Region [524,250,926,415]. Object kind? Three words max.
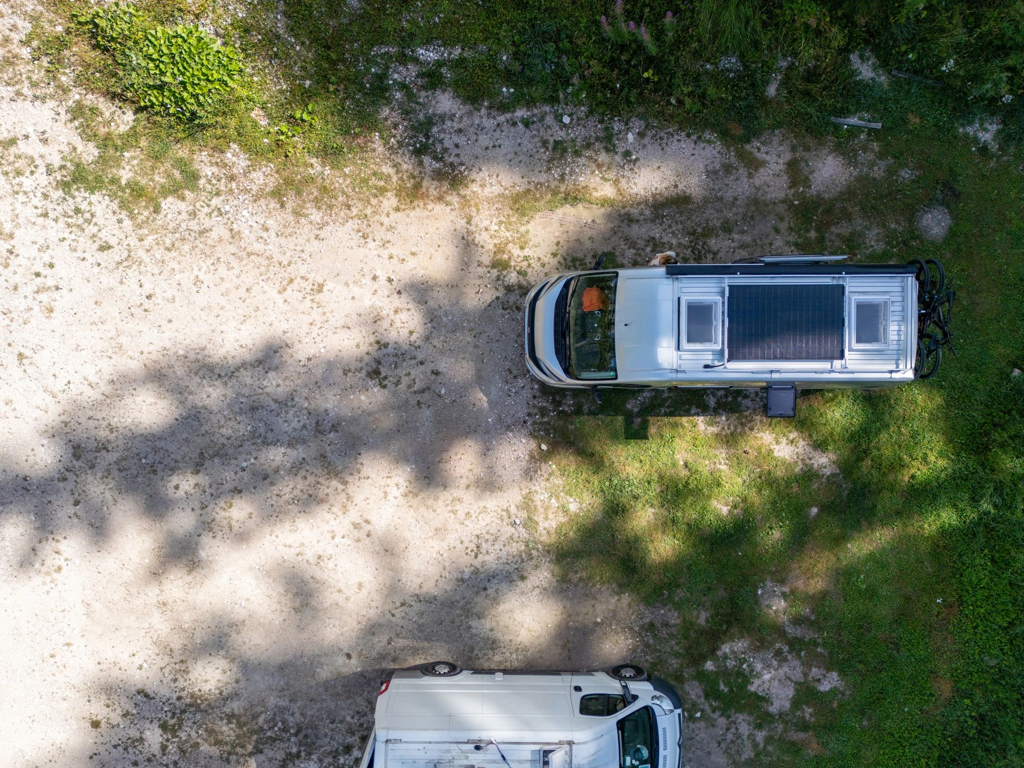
van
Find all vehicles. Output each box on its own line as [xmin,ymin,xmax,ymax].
[355,663,686,768]
[524,250,926,415]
